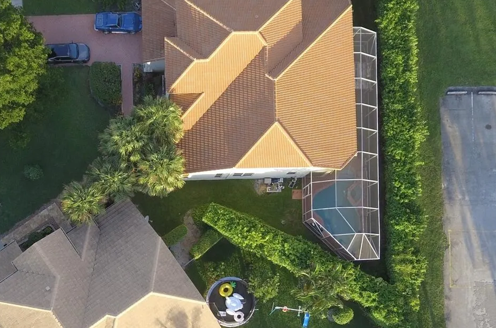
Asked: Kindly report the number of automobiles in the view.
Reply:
2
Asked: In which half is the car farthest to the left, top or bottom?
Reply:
top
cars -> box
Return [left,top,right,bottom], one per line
[38,40,92,66]
[92,9,142,35]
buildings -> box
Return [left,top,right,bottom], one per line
[142,0,356,178]
[0,199,224,328]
